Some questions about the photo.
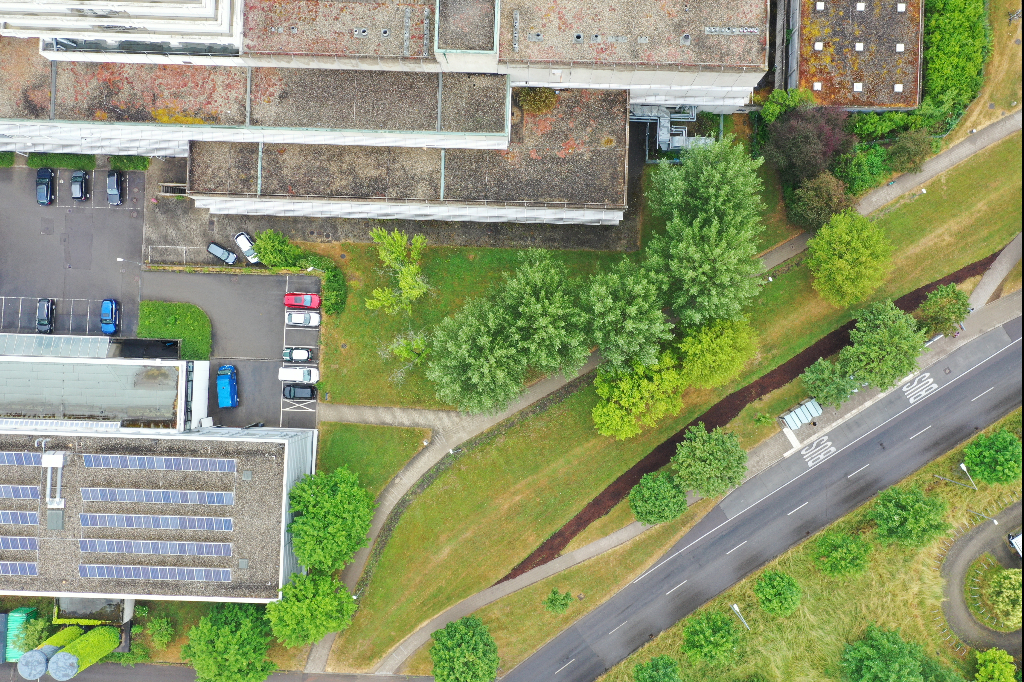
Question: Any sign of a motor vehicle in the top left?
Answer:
Yes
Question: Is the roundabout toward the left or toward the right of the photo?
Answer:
right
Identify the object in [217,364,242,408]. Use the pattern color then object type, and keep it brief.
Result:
blue vehicle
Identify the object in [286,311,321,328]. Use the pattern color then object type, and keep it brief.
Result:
white car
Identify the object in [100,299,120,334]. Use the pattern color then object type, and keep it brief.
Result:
blue car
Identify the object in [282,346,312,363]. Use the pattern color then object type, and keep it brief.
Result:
white car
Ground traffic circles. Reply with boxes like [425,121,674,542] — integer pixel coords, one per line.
[940,500,1024,659]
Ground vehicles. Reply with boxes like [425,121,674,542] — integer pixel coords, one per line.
[35,169,56,205]
[207,241,239,265]
[70,171,90,201]
[105,170,126,206]
[232,231,262,266]
[100,299,120,334]
[286,311,321,328]
[282,346,312,363]
[217,364,242,408]
[284,291,321,309]
[35,299,56,333]
[277,366,320,384]
[285,384,318,401]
